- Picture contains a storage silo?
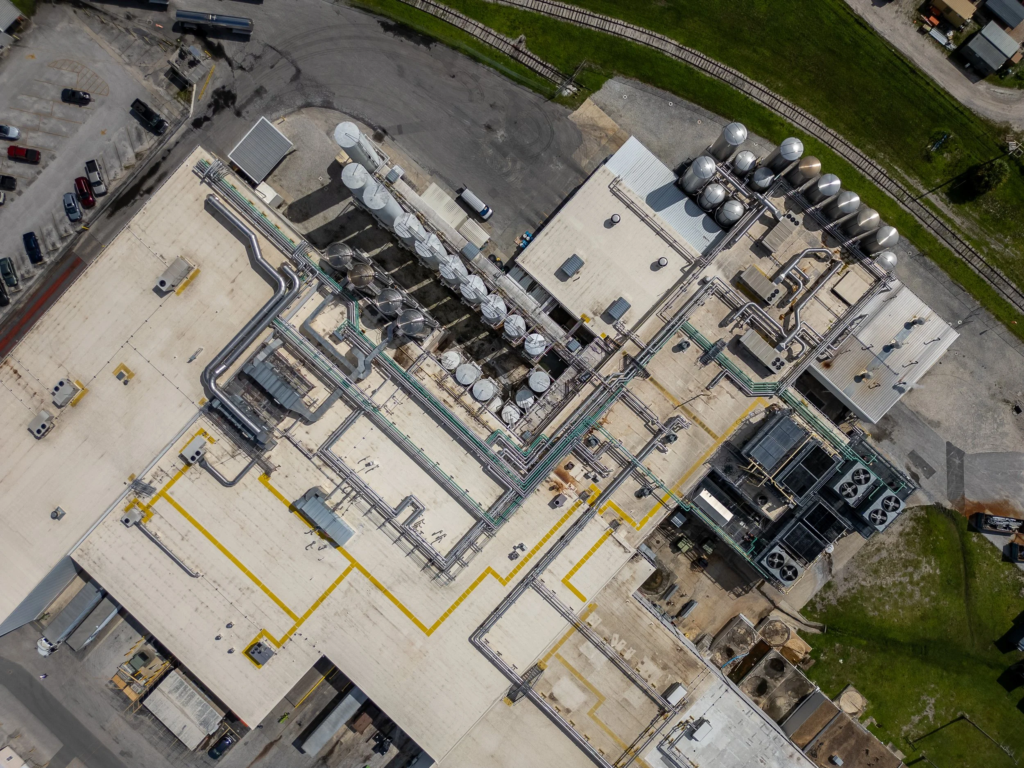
Yes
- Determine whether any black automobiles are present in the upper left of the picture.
Yes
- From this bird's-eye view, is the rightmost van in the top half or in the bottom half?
top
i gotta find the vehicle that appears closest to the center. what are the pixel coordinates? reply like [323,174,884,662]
[454,184,493,224]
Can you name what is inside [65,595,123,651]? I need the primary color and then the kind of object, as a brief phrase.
gray trailer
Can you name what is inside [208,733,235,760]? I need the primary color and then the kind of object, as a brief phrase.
black car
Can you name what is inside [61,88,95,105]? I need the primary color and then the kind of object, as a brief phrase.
black car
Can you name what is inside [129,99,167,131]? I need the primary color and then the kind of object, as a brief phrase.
black truck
